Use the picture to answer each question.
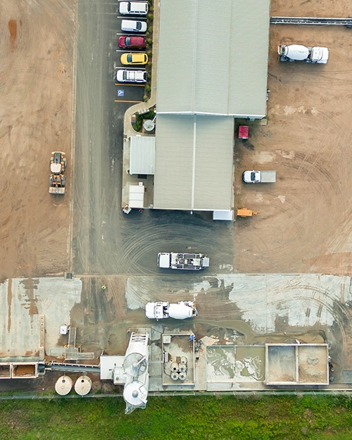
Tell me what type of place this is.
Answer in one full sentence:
This image shows an industrial area.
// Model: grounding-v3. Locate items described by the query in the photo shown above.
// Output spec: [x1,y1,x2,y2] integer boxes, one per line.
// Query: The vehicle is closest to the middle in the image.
[157,253,209,273]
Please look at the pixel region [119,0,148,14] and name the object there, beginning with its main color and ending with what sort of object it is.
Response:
white car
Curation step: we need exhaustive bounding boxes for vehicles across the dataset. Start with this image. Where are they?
[242,172,277,185]
[47,153,65,195]
[157,253,209,273]
[119,0,148,14]
[121,19,147,32]
[120,52,147,66]
[277,44,330,64]
[147,302,199,324]
[116,69,147,84]
[118,36,146,50]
